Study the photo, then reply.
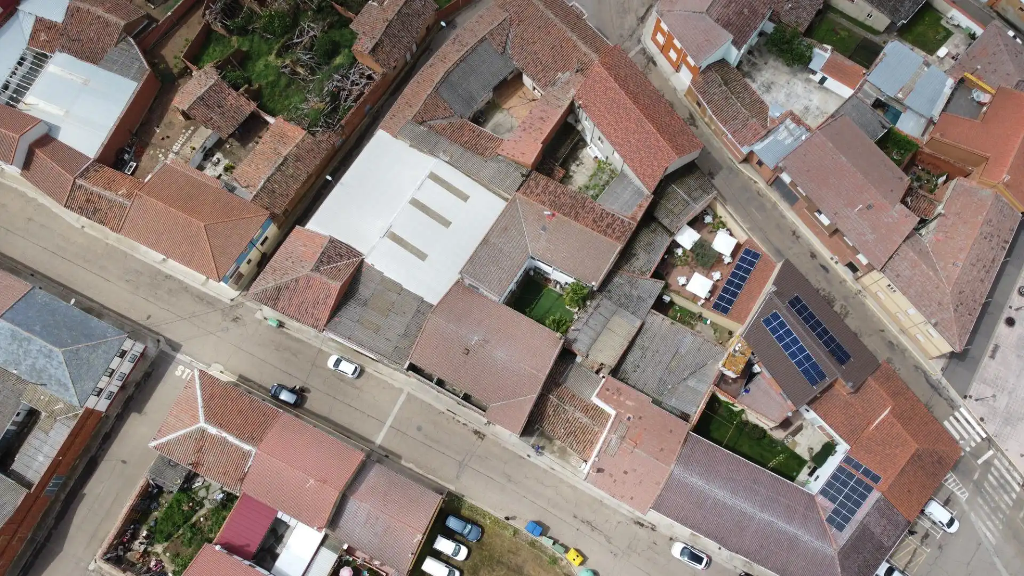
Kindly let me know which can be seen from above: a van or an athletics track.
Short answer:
van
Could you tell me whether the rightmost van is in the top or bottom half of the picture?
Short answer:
bottom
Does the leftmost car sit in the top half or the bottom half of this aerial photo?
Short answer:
bottom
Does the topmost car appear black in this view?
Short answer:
No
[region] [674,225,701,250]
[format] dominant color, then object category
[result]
white umbrella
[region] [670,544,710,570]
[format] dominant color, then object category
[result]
white car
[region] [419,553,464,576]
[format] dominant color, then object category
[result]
white vehicle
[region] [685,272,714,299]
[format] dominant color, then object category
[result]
white umbrella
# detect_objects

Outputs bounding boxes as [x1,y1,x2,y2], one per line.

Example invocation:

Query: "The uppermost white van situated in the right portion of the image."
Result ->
[920,498,961,533]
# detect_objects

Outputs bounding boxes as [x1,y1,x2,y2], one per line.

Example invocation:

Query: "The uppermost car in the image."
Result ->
[327,357,362,378]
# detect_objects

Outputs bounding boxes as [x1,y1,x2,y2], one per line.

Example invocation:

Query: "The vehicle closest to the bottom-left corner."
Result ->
[268,383,303,407]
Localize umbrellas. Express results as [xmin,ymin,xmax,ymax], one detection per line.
[338,563,354,576]
[685,272,714,299]
[674,225,701,250]
[712,230,738,256]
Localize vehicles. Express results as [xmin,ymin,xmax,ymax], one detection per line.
[327,357,362,378]
[268,383,303,407]
[920,498,961,533]
[881,563,908,576]
[443,512,483,542]
[419,553,464,576]
[670,544,710,570]
[431,533,470,563]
